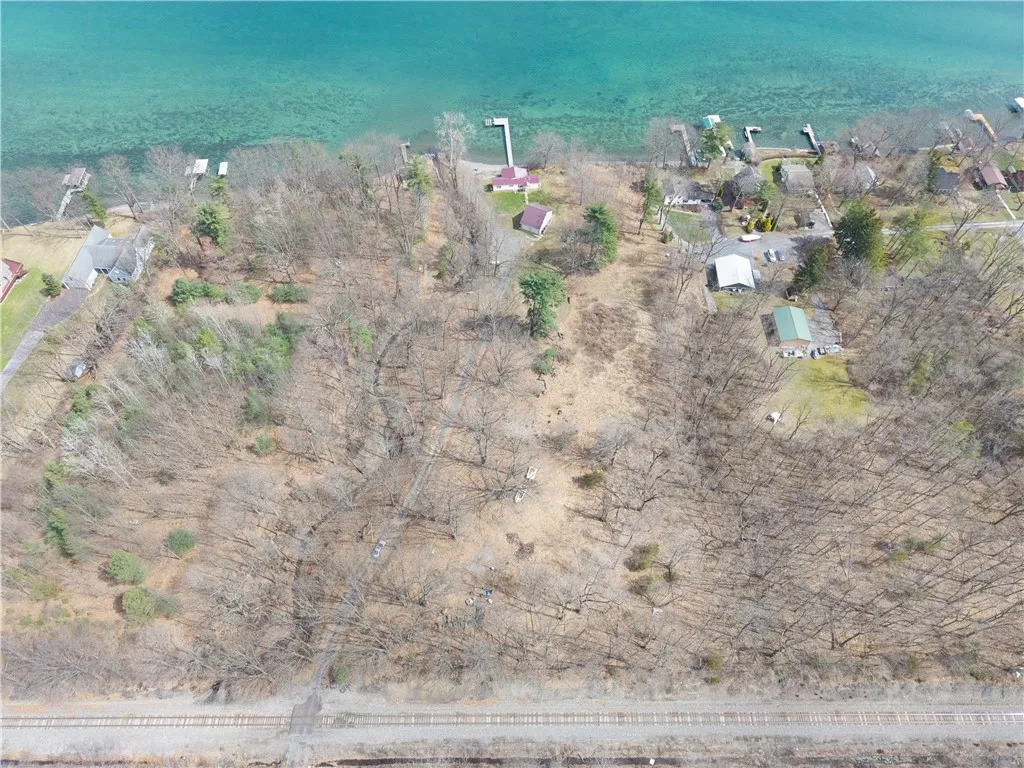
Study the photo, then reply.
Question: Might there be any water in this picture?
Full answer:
Yes, the picture does contain water.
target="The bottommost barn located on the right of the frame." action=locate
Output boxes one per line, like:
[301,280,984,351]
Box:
[769,304,811,348]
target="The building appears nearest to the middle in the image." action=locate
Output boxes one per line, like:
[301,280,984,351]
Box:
[520,203,551,234]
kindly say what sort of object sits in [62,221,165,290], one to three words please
house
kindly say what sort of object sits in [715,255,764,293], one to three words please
building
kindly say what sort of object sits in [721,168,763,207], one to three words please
house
